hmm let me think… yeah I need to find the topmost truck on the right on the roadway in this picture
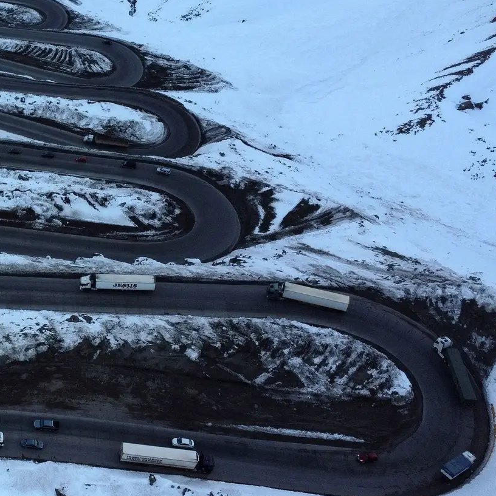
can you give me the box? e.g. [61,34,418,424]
[263,286,353,311]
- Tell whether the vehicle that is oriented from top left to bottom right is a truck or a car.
truck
